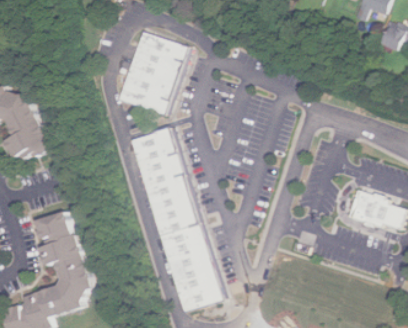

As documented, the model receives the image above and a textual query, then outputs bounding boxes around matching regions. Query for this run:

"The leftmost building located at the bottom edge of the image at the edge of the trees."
[6,212,96,328]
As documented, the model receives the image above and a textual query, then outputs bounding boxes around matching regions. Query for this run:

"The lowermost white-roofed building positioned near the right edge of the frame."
[350,190,408,230]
